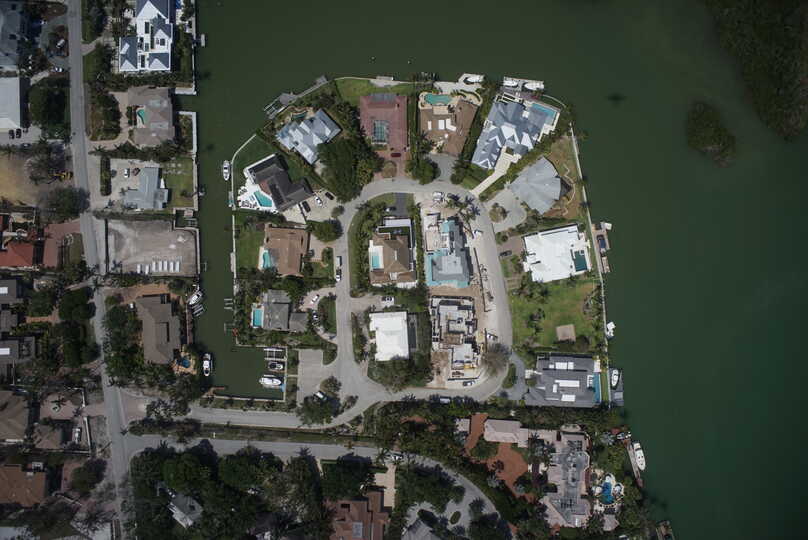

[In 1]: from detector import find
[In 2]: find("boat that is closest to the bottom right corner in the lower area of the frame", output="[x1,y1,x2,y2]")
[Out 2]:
[630,440,644,471]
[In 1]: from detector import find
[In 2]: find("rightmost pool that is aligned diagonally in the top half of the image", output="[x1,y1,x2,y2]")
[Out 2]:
[532,103,556,125]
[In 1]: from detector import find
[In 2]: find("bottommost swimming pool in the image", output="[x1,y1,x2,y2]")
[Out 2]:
[599,482,615,504]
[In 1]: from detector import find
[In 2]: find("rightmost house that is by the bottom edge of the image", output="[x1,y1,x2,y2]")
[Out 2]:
[531,426,590,527]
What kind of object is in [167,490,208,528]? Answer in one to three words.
house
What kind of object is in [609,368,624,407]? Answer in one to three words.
pier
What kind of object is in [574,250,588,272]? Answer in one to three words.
swimming pool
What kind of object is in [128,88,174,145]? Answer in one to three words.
house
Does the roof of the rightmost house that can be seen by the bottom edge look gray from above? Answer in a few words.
Yes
